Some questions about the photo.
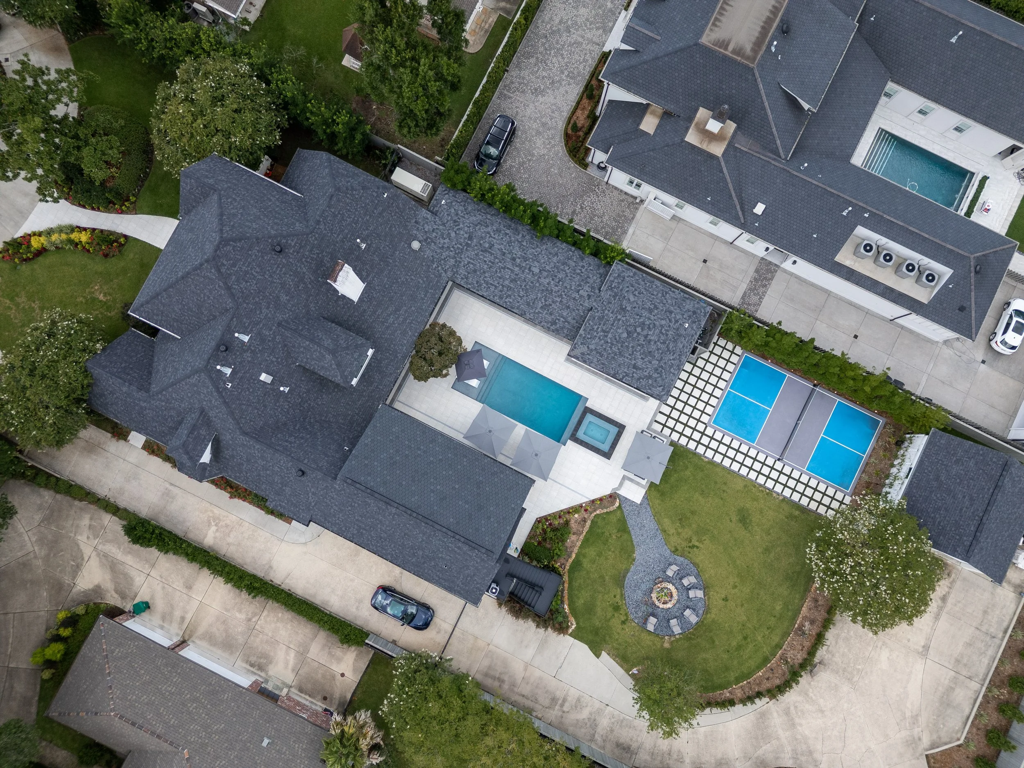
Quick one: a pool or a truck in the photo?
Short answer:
pool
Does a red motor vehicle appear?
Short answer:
No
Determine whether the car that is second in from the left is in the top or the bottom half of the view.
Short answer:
top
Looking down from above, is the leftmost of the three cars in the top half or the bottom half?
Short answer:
bottom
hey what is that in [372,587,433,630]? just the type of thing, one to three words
car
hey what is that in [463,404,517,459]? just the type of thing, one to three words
umbrella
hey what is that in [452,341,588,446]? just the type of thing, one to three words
swimming pool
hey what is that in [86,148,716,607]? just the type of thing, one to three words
house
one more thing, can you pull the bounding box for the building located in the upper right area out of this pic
[587,0,1024,343]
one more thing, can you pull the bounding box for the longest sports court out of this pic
[707,349,886,497]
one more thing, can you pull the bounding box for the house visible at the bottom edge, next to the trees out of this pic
[44,612,334,768]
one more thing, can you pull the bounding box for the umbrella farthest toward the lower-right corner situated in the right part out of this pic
[622,431,674,484]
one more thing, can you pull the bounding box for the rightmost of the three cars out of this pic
[989,297,1024,356]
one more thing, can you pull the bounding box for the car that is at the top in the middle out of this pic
[475,110,517,173]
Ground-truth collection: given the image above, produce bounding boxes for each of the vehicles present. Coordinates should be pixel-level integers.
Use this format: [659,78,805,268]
[475,110,517,173]
[372,587,433,630]
[989,297,1024,356]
